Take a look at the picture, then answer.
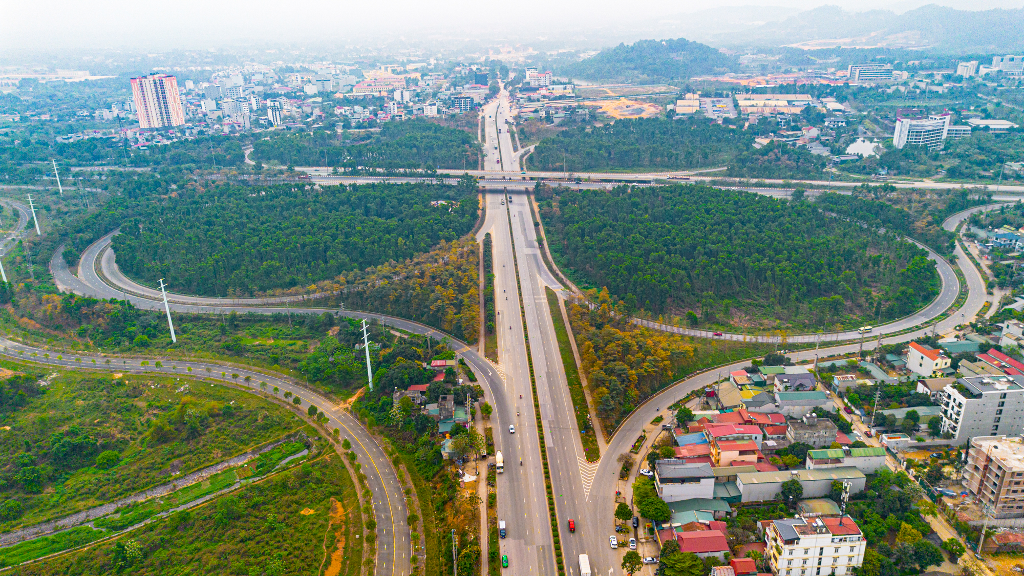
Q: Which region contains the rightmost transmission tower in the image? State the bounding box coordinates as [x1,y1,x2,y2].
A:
[360,319,375,392]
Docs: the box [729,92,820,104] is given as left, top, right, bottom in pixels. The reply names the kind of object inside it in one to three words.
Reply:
building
